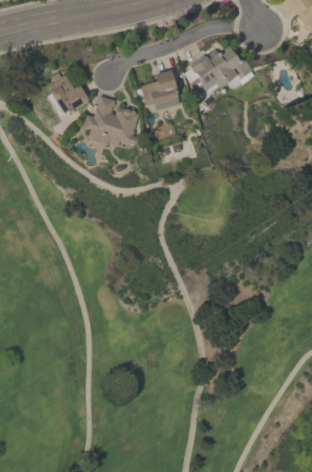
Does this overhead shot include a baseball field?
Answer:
No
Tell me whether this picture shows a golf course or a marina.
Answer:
golf course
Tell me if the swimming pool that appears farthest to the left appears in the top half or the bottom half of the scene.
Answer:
top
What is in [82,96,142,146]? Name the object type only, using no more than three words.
house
